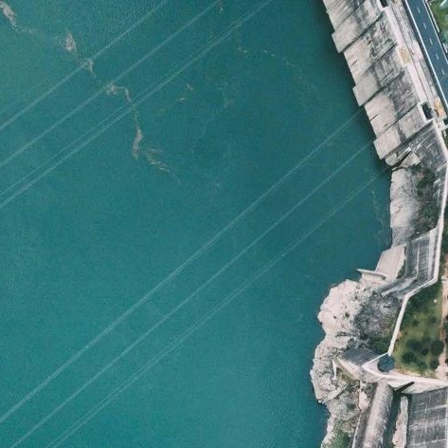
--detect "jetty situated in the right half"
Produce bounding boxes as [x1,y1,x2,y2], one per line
[357,268,388,284]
